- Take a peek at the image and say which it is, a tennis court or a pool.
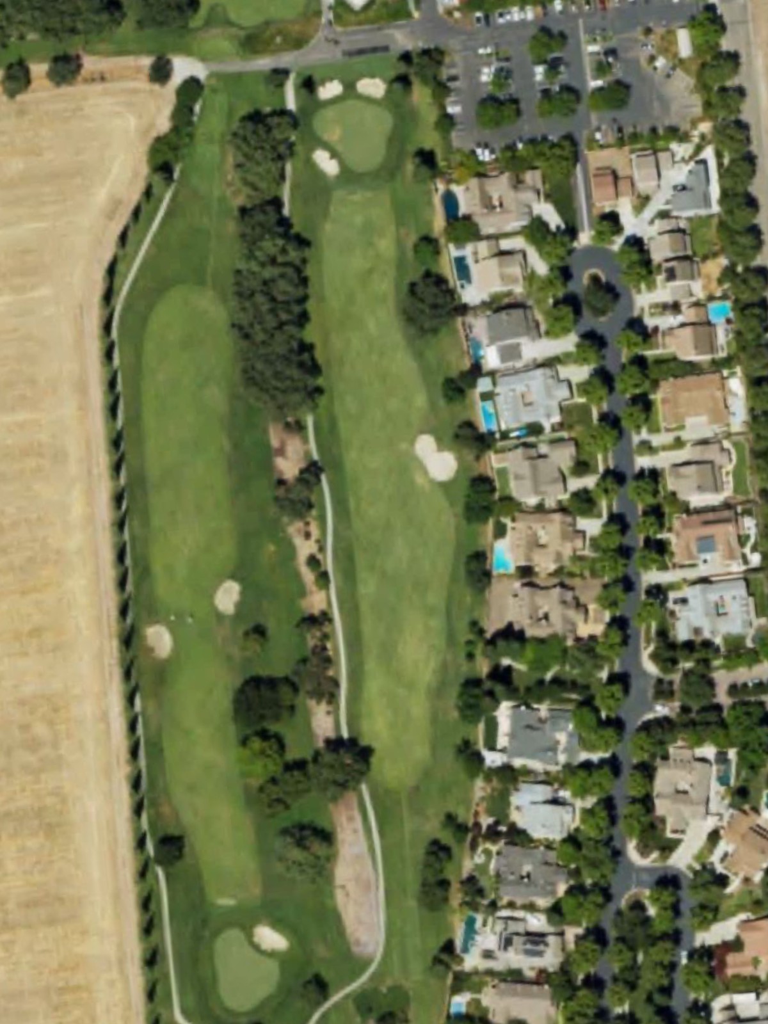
pool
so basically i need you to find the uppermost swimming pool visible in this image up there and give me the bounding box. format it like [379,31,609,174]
[443,187,460,221]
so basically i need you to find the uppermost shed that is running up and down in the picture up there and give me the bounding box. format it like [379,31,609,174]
[679,27,692,57]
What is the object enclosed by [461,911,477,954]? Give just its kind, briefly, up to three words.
swimming pool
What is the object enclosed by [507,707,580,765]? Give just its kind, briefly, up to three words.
house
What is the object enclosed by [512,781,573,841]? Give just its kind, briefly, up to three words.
house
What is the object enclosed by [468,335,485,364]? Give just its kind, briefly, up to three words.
swimming pool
